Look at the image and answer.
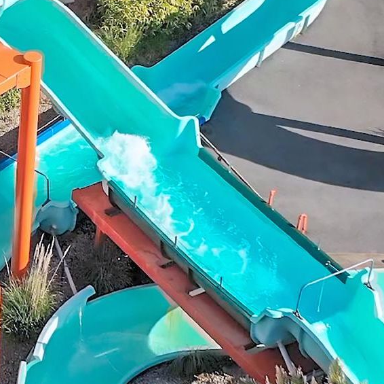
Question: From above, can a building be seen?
No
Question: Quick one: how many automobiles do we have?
zero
